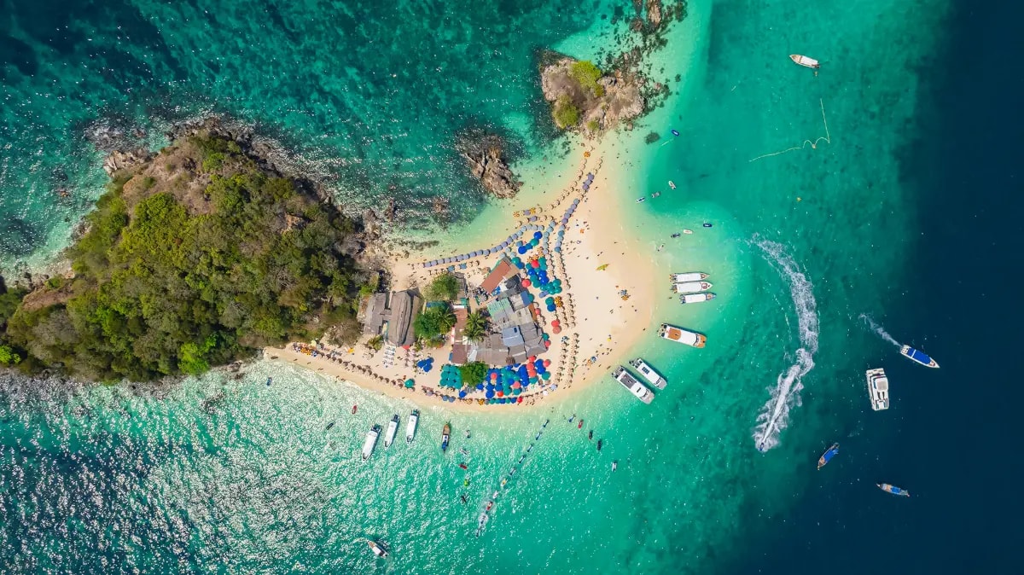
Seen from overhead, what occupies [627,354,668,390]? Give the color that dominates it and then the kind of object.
white boat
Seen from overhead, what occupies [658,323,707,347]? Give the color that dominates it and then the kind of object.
white boat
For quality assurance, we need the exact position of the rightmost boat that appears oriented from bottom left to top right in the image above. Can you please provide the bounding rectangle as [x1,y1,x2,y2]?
[818,442,841,471]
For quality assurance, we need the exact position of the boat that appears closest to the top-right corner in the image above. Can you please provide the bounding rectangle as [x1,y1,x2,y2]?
[789,55,821,71]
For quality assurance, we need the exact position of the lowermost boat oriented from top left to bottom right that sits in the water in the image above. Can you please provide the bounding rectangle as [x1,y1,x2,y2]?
[368,539,390,559]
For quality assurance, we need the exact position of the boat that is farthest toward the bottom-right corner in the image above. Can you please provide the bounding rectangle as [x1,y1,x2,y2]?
[877,484,912,497]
